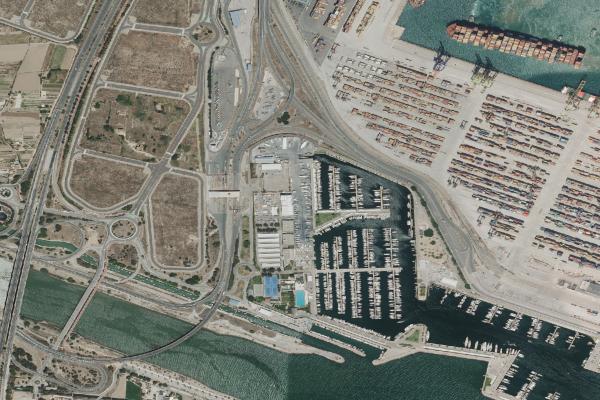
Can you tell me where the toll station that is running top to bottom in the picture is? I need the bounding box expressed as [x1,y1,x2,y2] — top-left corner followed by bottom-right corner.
[207,114,256,262]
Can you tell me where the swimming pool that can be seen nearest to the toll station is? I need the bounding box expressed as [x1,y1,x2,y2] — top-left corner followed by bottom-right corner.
[294,281,306,309]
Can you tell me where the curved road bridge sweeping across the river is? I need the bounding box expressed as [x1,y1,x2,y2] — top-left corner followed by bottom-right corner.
[118,262,232,362]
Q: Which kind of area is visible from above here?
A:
port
